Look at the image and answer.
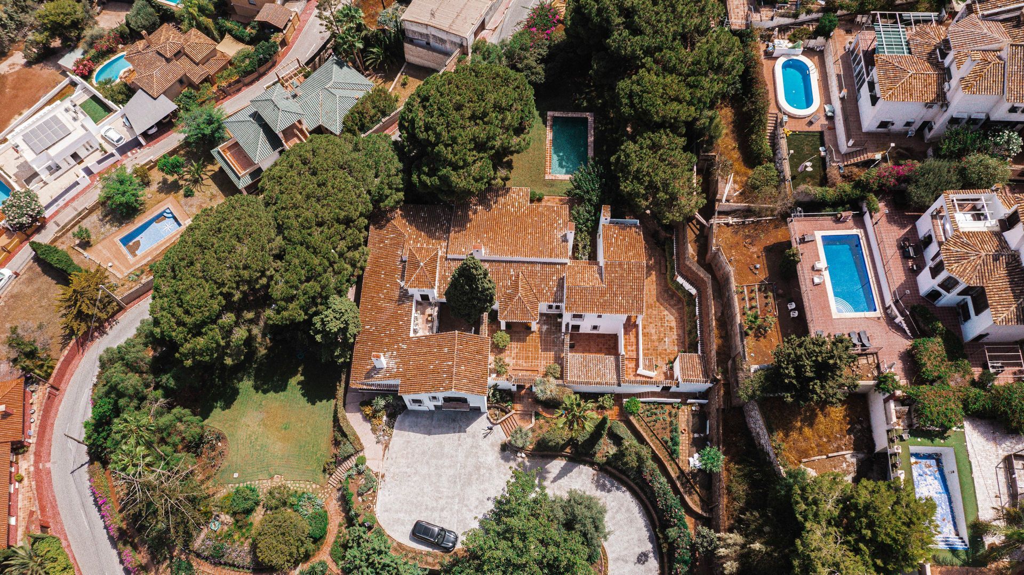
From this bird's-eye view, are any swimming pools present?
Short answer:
Yes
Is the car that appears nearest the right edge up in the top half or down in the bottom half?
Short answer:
bottom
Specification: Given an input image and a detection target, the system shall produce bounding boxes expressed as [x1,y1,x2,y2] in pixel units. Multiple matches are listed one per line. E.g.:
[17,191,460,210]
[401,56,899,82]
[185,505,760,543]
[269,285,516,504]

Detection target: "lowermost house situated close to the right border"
[918,189,1024,335]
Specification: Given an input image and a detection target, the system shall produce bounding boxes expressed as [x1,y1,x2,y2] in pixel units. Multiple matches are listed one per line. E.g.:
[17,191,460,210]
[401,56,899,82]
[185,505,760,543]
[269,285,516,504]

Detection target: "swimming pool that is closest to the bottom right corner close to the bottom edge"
[909,446,968,548]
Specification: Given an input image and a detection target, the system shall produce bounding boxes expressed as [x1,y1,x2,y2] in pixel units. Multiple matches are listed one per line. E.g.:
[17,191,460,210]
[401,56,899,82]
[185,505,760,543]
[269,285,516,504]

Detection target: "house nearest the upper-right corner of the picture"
[850,0,1024,131]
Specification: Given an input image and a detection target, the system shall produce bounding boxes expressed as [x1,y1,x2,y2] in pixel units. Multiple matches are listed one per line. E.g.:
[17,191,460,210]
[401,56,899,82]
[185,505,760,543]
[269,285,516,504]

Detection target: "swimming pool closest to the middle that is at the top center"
[545,111,594,179]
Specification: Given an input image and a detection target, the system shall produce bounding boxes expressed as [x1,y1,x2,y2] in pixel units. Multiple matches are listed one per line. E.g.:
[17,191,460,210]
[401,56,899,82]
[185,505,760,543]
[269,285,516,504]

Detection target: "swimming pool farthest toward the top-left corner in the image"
[95,54,131,81]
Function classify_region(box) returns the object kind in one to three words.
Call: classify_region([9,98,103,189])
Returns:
house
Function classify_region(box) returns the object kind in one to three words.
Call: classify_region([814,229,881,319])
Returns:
swimming pool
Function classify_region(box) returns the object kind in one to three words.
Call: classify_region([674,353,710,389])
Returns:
shed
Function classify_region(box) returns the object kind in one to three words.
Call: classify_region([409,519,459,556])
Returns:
car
